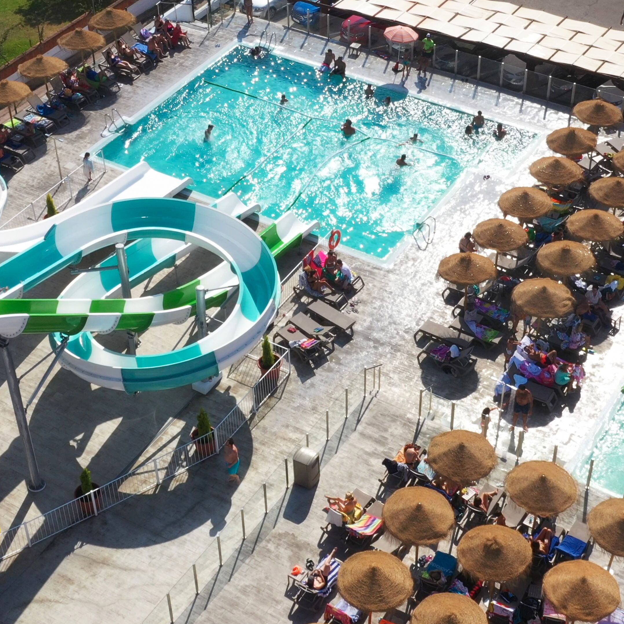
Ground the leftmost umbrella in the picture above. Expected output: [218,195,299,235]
[0,77,35,133]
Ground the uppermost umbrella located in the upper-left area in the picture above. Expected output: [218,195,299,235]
[86,8,134,53]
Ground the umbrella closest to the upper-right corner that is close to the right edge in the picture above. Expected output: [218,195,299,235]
[568,101,624,138]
